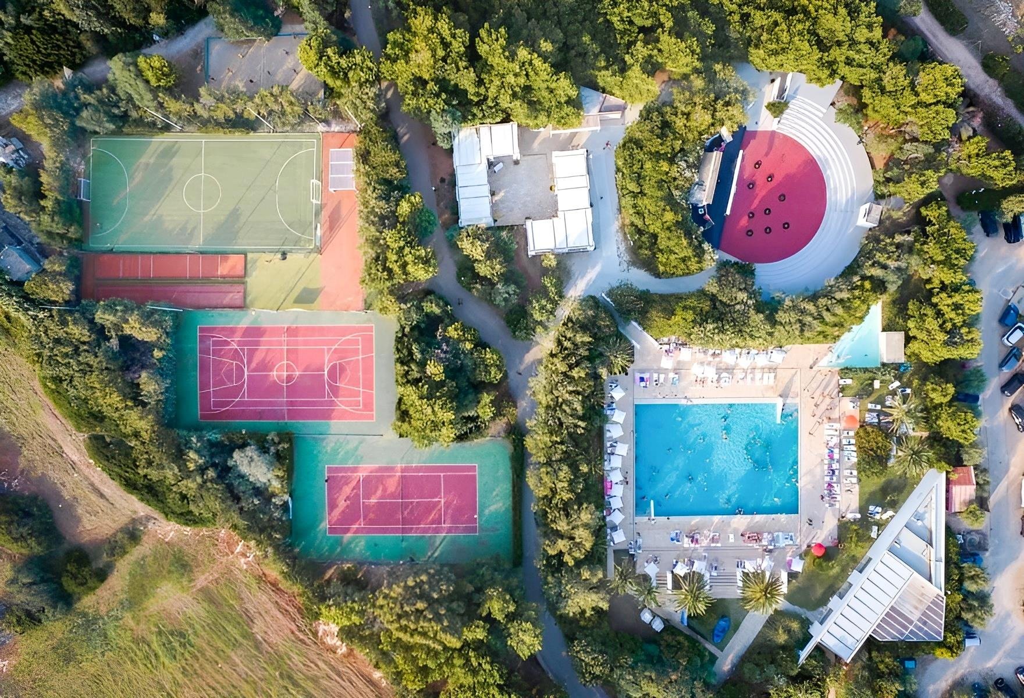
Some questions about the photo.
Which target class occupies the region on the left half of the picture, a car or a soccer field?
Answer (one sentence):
You can see a soccer field on the left half of the picture.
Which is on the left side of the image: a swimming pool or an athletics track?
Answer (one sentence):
The one visible on the left side of the image is an athletics track.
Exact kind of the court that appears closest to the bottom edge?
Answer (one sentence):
Looking closely, the court that appears closest to the bottom edge is a tennis court.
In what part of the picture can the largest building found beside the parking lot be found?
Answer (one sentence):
The largest building found beside the parking lot is in the bottom right part of the image.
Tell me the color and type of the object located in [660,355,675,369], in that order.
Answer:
white umbrella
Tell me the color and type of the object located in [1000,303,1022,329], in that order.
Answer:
blue car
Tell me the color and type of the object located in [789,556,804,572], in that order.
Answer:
white umbrella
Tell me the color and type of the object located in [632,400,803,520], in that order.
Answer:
blue swimming pool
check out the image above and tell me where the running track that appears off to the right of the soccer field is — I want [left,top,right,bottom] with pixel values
[321,132,366,311]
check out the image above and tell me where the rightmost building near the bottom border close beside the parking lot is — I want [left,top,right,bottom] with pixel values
[797,467,945,665]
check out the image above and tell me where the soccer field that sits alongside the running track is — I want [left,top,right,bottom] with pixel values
[83,132,320,252]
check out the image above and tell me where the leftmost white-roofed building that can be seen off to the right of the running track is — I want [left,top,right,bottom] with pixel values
[454,123,520,228]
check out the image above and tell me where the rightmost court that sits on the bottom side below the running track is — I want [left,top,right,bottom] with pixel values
[291,435,514,563]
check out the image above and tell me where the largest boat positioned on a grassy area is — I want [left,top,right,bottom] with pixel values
[715,618,730,644]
